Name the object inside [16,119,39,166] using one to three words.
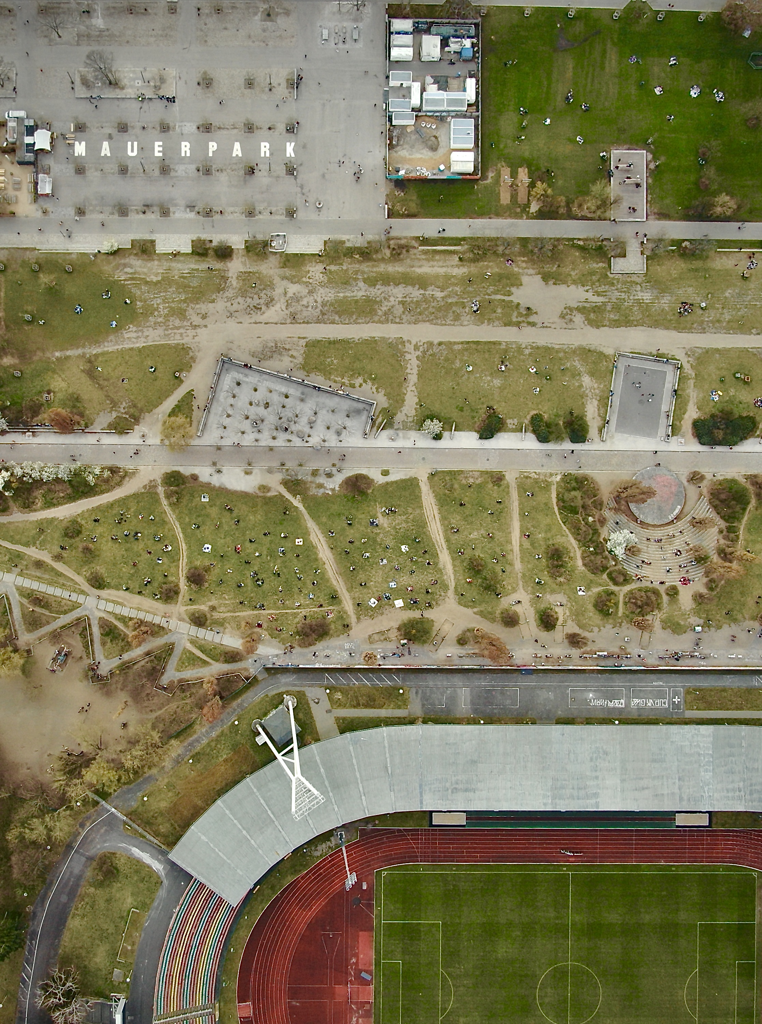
building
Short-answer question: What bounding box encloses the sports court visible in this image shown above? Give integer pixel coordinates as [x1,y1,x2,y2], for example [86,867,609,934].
[605,357,679,441]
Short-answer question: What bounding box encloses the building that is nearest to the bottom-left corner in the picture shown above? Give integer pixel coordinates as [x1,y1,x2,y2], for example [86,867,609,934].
[78,994,118,1024]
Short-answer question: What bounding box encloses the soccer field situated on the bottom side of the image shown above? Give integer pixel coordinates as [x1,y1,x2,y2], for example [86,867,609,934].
[375,863,762,1024]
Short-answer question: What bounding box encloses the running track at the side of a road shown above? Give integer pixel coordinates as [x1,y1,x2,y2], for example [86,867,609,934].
[237,828,762,1024]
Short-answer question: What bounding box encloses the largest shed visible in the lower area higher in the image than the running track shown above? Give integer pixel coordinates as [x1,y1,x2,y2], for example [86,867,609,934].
[262,705,301,746]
